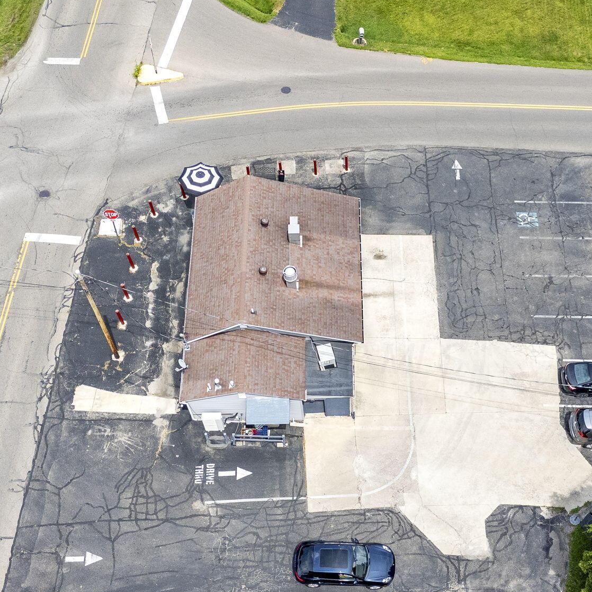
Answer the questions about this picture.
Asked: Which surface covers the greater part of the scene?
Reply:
paved ground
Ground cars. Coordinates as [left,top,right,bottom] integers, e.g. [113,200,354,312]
[566,408,592,448]
[293,538,395,591]
[558,360,592,397]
